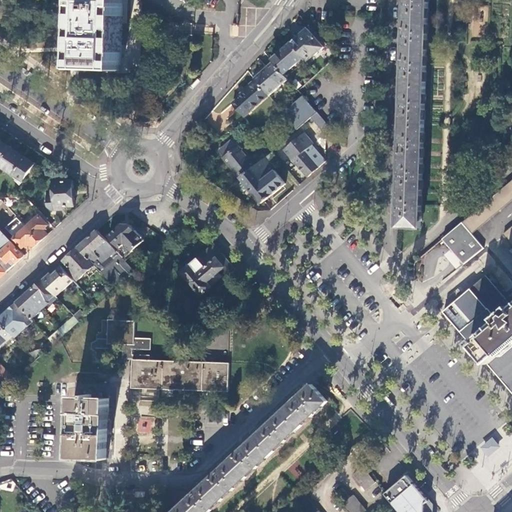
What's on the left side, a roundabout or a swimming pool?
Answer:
roundabout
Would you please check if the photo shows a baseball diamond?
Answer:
No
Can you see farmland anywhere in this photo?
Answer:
No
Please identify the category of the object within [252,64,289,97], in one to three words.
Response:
house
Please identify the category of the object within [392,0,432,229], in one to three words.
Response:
building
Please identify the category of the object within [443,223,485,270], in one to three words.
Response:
building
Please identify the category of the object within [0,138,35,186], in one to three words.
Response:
house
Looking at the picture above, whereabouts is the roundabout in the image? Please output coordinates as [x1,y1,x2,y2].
[112,139,169,196]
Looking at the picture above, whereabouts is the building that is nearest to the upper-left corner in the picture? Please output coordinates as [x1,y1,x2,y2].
[56,0,125,72]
